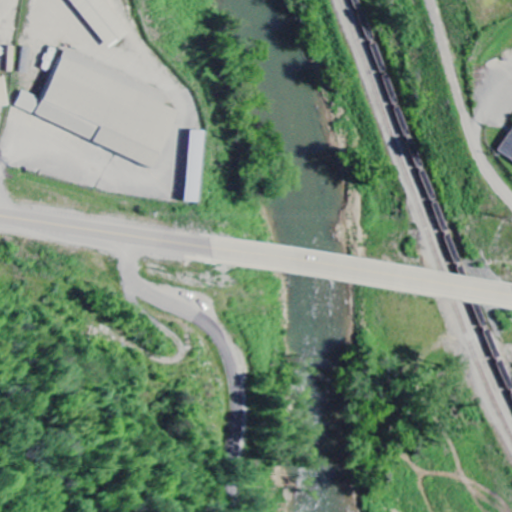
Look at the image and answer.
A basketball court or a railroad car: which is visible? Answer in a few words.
railroad car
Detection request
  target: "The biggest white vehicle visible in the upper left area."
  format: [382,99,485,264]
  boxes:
[42,46,56,70]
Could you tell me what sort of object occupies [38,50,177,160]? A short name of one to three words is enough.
building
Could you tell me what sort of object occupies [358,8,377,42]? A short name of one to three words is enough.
rail car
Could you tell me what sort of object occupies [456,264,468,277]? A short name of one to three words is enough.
rail car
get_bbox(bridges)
[208,238,512,312]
